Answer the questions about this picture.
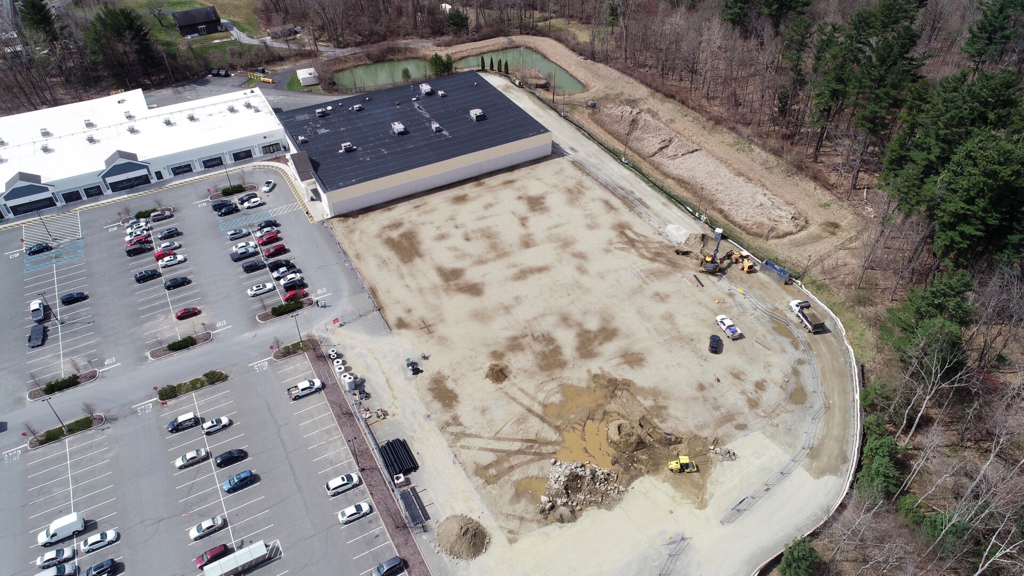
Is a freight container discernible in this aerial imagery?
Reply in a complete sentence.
Yes, this view includes a freight container.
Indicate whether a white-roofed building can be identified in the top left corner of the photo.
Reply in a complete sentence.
Yes, the scene does show a white-roofed building in the top left corner of the photo.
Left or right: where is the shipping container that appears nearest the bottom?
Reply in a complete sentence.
The shipping container that appears nearest the bottom appears in the right half of the scene.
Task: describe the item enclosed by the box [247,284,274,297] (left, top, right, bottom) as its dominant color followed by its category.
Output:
white vehicle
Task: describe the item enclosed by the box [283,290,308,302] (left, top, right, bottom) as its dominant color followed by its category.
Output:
red vehicle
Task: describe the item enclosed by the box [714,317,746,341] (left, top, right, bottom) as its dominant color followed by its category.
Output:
white truck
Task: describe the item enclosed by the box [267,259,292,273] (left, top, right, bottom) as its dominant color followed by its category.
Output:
black car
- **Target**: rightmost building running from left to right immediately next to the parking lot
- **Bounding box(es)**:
[279,68,552,217]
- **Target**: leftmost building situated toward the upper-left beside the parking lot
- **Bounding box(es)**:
[0,86,290,219]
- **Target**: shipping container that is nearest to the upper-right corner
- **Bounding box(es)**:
[758,259,791,285]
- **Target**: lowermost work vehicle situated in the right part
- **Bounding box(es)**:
[663,453,700,475]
